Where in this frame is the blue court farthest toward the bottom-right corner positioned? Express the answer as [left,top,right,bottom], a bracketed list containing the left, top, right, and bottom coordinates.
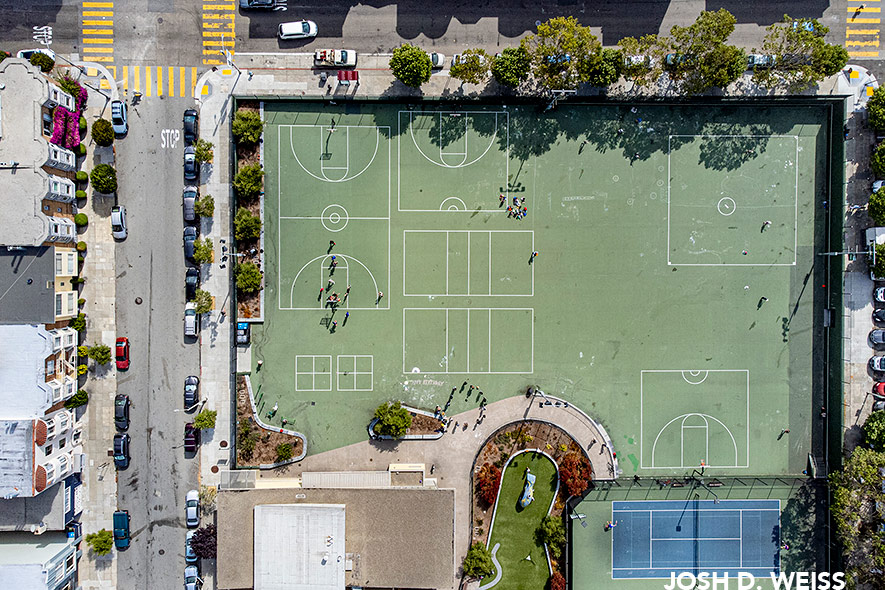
[612,491,780,590]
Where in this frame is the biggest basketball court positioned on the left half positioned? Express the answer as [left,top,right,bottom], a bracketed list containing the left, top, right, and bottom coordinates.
[278,125,391,309]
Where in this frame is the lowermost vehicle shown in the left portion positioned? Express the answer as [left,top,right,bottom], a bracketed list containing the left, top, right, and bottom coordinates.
[183,563,204,590]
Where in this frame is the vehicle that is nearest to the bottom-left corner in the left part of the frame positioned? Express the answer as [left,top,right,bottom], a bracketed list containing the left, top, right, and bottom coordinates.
[112,508,131,552]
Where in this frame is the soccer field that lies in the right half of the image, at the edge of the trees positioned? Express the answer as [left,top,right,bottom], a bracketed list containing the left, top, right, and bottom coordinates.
[667,136,798,265]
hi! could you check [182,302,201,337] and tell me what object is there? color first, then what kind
white car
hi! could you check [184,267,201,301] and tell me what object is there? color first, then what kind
black car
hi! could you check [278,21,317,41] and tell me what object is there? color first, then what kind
white car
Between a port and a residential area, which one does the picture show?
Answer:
residential area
